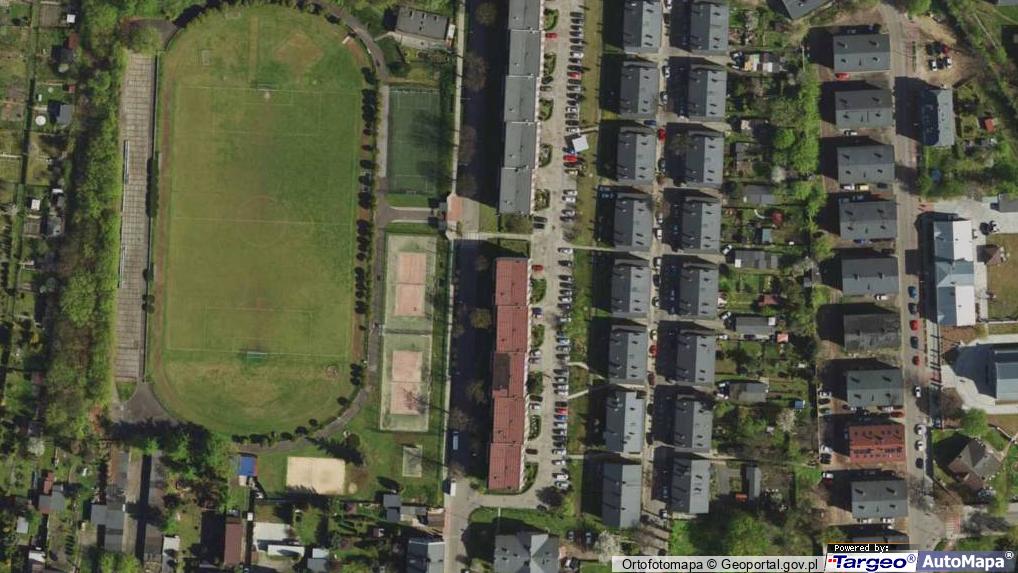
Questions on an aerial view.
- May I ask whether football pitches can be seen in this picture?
Yes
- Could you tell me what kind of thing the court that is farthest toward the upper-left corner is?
tennis court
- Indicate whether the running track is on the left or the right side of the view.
left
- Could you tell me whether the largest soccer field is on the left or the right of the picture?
left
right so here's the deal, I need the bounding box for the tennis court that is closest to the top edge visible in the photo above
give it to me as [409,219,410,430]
[384,235,437,331]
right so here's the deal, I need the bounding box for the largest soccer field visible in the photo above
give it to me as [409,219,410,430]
[148,3,362,434]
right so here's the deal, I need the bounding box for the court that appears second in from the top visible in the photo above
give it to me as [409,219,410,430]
[379,335,431,431]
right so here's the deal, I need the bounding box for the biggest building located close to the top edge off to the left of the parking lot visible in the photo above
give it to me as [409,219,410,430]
[395,7,448,40]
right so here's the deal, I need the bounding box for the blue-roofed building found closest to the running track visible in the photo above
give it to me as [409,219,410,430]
[241,456,257,477]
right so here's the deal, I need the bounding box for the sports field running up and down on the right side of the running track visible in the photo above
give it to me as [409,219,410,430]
[386,88,439,194]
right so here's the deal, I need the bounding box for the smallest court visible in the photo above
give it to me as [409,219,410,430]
[402,444,423,478]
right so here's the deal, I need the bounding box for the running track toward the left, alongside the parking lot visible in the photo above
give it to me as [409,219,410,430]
[152,8,371,430]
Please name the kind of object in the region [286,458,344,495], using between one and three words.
sports court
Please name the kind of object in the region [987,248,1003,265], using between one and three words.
gazebo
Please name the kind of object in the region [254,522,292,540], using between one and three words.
building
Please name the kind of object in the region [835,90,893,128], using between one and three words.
house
